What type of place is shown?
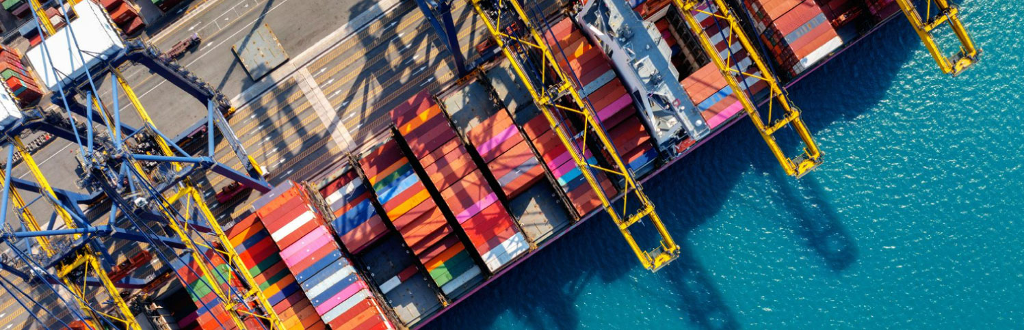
port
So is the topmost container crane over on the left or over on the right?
right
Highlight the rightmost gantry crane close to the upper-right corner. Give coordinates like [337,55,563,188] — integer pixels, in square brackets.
[892,0,987,84]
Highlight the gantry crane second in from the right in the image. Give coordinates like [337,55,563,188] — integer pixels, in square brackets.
[676,0,834,183]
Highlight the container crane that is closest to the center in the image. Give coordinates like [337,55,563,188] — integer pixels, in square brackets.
[394,0,688,280]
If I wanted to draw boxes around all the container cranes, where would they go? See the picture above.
[676,0,834,183]
[394,0,688,280]
[17,0,292,330]
[0,80,213,330]
[892,0,987,84]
